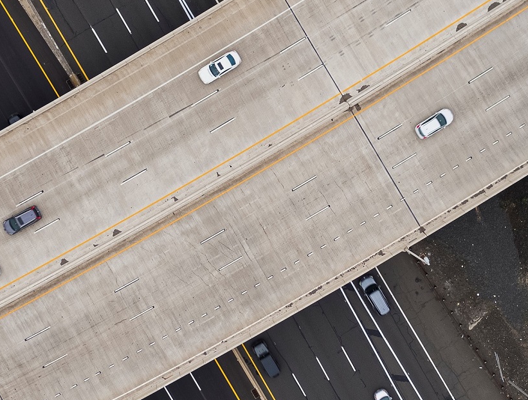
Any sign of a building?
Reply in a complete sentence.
No, the photo shows no building.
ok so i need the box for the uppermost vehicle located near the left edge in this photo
[5,108,24,125]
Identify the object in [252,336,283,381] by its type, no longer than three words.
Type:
truck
